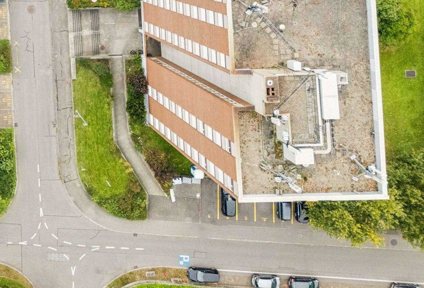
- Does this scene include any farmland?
No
